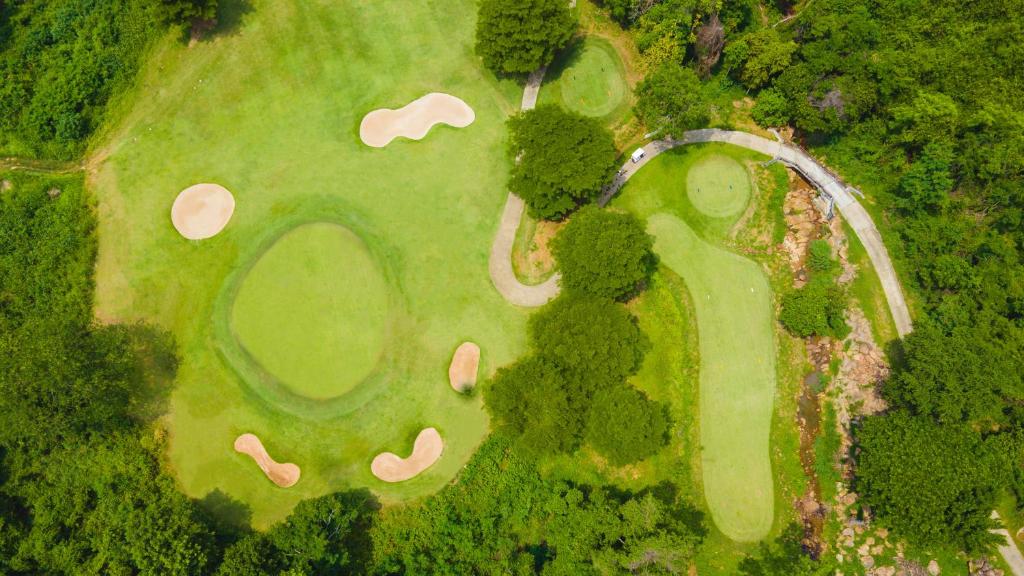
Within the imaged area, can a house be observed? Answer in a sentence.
No, no house is visible in the scene.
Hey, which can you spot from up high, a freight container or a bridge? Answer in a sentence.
It is a bridge that can be seen here.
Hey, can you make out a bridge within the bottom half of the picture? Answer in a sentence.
No, there's no bridge to be seen within the bottom half of the picture.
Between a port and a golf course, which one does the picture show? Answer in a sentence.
This looks like a golf course.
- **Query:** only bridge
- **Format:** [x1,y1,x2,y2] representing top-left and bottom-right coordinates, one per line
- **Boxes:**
[762,133,865,221]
